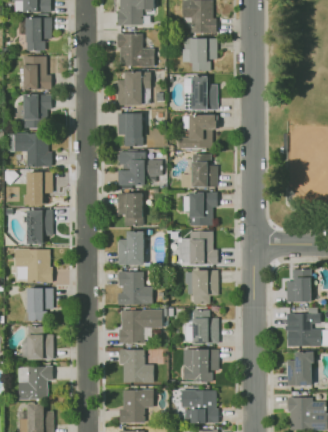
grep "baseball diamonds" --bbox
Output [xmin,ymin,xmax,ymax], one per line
[288,123,328,200]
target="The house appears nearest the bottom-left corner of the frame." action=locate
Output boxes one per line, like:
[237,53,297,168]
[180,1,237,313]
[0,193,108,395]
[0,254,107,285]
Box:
[20,404,54,432]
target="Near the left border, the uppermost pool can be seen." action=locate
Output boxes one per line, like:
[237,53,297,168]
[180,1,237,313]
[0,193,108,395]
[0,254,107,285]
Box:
[11,218,26,243]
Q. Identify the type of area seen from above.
residential area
